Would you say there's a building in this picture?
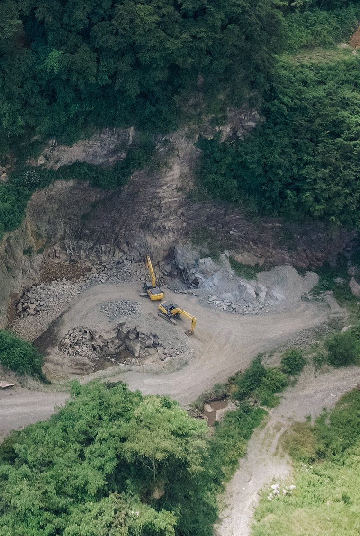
No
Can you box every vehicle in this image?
[134,247,164,300]
[155,300,200,332]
